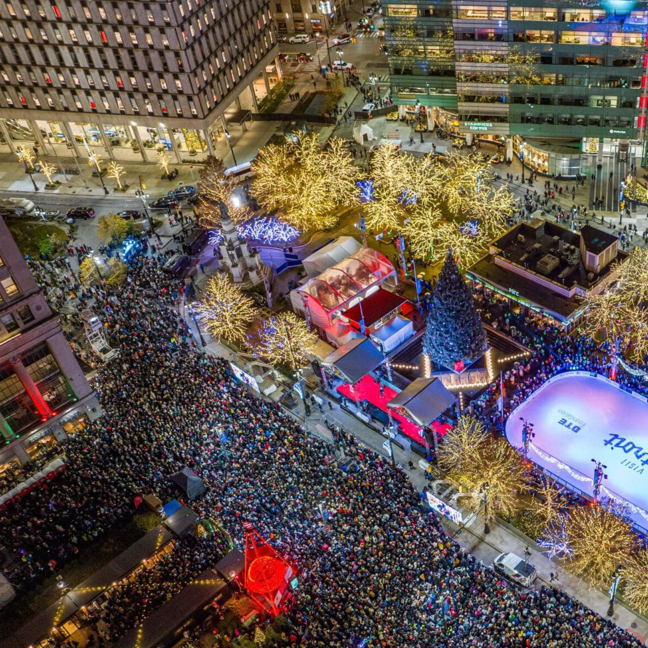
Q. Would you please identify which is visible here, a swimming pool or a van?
van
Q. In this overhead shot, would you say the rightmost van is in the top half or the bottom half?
bottom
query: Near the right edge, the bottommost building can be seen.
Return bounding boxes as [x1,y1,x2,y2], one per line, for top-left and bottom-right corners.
[467,214,630,328]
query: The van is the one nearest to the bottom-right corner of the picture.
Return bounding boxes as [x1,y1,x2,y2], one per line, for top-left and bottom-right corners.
[489,547,543,588]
